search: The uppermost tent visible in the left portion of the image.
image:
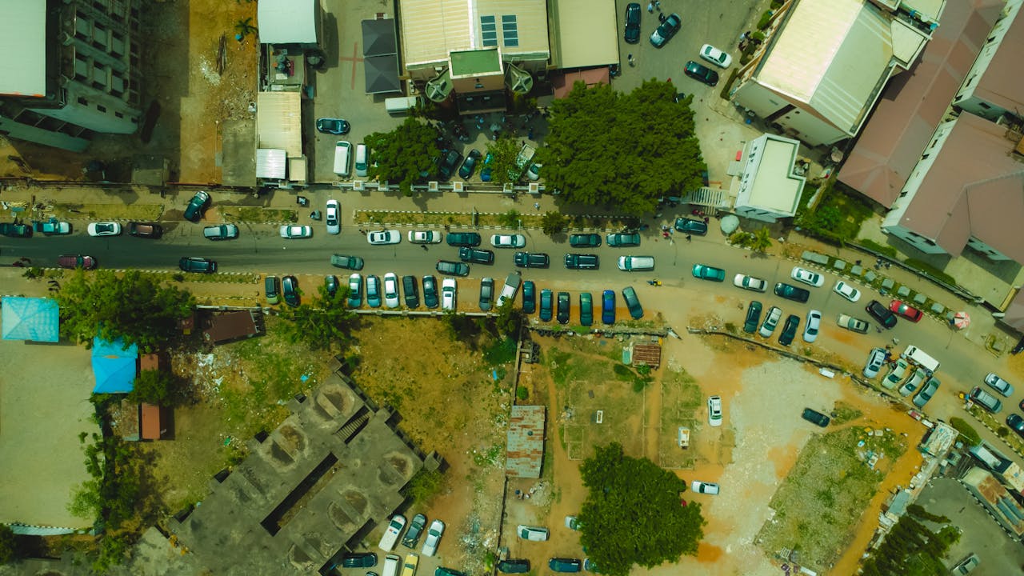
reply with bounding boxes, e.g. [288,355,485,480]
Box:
[362,18,401,60]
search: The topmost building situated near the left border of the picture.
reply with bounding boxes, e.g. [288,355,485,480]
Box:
[0,0,142,150]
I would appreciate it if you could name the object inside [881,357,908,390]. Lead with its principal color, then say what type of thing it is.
green car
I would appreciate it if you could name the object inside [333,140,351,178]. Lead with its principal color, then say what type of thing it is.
white vehicle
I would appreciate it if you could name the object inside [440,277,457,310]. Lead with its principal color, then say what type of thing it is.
white car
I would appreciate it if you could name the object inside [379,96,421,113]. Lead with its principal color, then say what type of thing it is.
white vehicle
